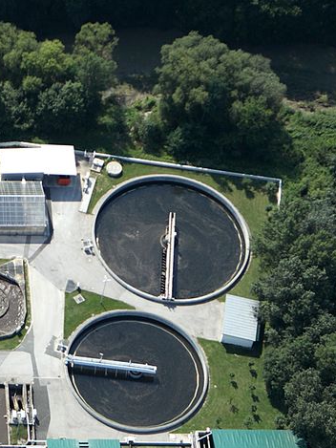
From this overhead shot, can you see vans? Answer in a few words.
No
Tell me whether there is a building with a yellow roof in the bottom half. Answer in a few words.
No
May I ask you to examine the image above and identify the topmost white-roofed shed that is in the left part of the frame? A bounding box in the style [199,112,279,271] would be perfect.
[0,145,76,186]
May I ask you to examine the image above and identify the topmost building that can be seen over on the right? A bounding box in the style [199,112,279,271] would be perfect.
[220,295,259,349]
